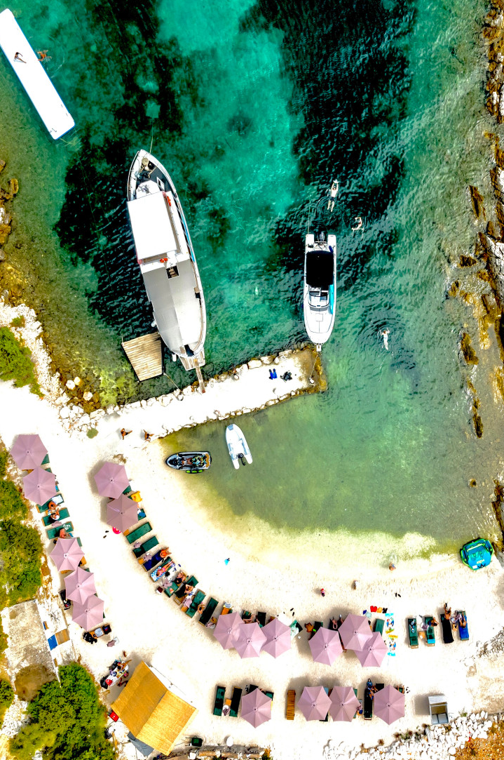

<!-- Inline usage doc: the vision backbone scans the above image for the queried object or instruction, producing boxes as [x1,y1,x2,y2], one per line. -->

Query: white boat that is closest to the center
[225,423,251,467]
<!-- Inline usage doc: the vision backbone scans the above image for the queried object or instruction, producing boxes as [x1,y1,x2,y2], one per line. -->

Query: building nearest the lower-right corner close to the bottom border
[428,695,449,726]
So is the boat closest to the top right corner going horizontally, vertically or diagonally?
vertically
